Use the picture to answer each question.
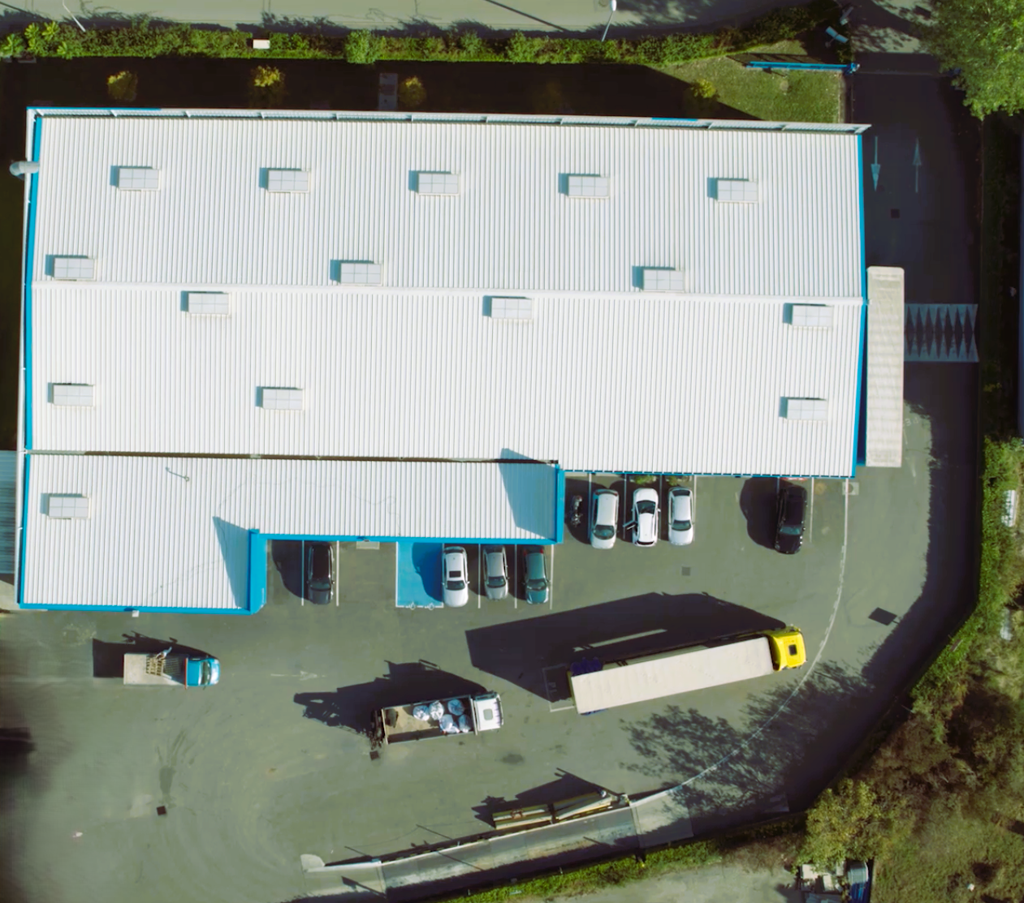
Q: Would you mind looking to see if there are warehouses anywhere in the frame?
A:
Yes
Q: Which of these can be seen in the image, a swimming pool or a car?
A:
car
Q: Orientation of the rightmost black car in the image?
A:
vertically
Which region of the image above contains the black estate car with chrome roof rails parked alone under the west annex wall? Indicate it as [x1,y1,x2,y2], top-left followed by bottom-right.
[306,540,337,604]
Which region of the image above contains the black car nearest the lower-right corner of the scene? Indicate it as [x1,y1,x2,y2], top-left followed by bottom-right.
[773,483,807,553]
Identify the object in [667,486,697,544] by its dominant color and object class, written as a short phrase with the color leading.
white car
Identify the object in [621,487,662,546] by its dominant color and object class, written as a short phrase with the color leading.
white car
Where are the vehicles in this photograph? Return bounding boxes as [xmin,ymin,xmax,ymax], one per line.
[306,540,337,604]
[590,488,620,548]
[123,654,222,691]
[667,486,697,544]
[621,487,662,546]
[521,545,551,603]
[440,544,471,608]
[569,627,807,719]
[773,483,807,553]
[482,544,510,600]
[366,687,507,744]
